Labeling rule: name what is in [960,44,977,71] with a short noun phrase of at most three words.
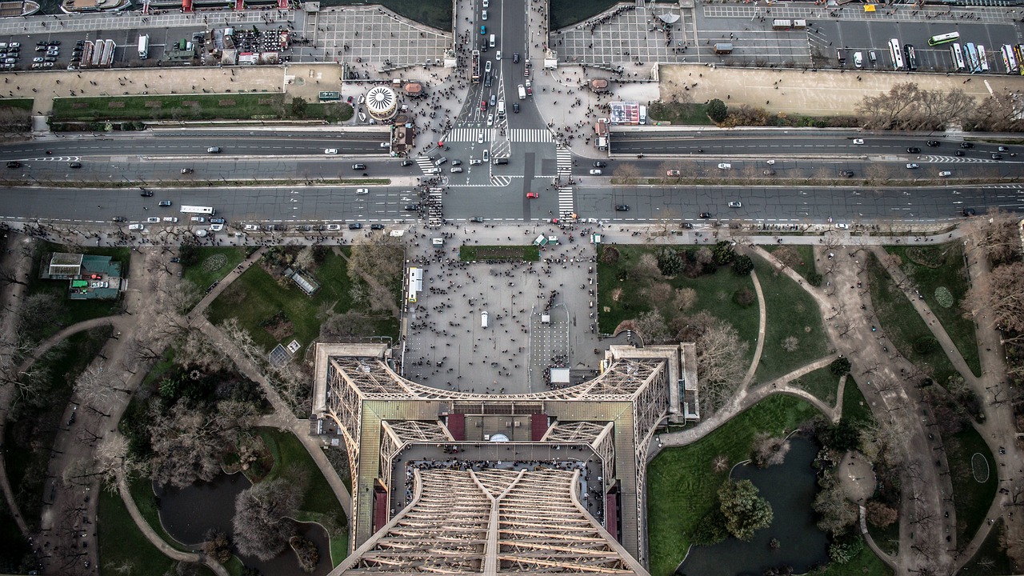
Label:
vehicle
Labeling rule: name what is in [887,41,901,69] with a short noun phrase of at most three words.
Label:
vehicle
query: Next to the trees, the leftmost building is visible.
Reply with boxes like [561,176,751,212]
[39,252,127,301]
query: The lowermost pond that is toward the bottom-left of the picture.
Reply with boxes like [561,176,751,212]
[155,473,332,576]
